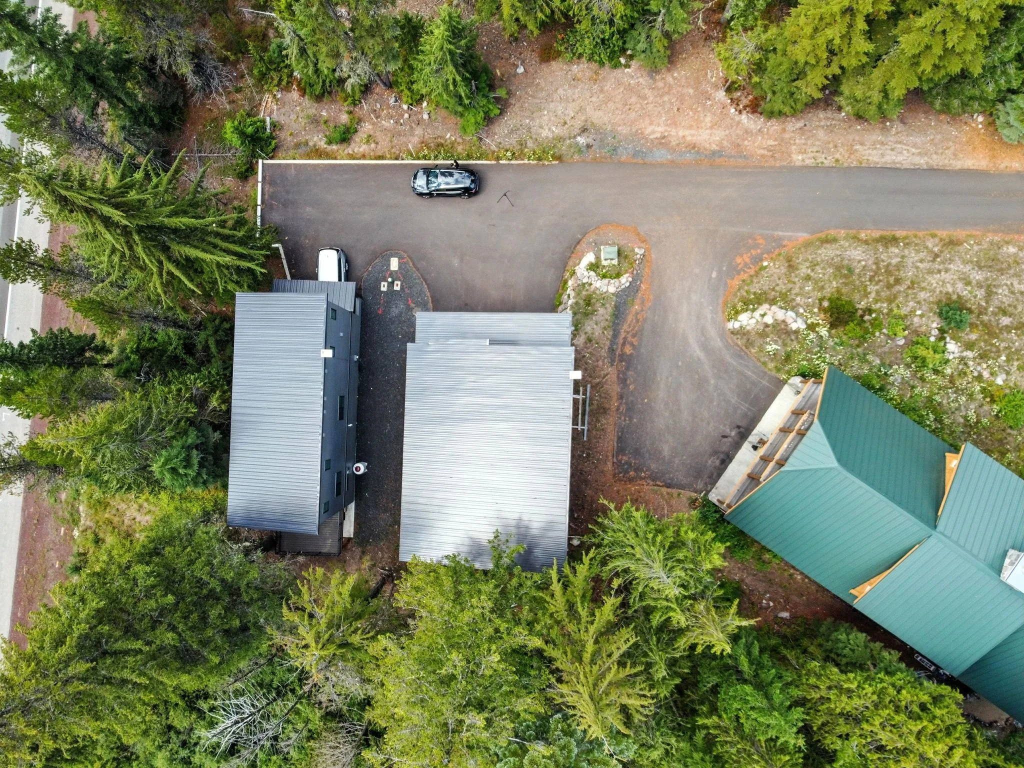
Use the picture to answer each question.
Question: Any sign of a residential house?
Yes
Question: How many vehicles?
2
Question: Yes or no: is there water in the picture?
No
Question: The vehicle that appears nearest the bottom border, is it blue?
No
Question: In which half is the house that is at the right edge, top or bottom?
bottom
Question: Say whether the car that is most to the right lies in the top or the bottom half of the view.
top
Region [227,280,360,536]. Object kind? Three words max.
house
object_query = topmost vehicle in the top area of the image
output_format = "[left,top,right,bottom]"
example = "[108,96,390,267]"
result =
[411,165,479,199]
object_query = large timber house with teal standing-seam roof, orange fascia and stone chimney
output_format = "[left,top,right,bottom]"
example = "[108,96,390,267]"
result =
[712,364,1024,719]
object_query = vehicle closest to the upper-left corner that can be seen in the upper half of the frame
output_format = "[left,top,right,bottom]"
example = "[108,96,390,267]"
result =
[318,248,349,282]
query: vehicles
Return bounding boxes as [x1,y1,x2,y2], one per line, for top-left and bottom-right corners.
[318,248,349,282]
[411,165,479,199]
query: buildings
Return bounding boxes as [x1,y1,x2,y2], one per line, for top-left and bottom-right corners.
[399,311,582,571]
[227,280,360,536]
[712,364,1024,719]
